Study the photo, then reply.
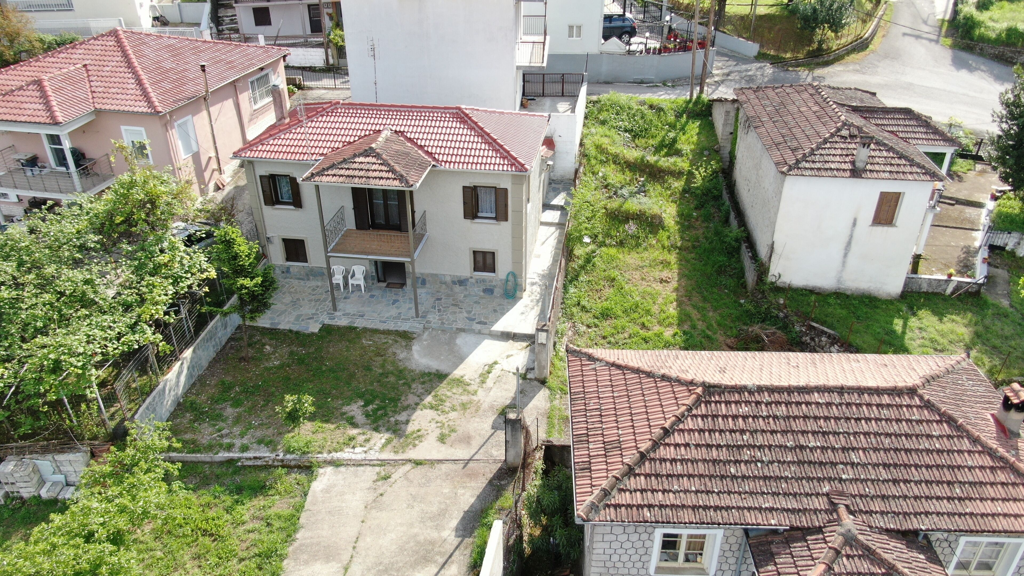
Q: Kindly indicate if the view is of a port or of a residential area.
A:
residential area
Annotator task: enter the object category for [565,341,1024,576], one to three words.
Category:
house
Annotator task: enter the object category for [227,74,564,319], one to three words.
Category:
house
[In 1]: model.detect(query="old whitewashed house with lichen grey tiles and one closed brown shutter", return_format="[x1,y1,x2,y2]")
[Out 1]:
[733,79,965,297]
